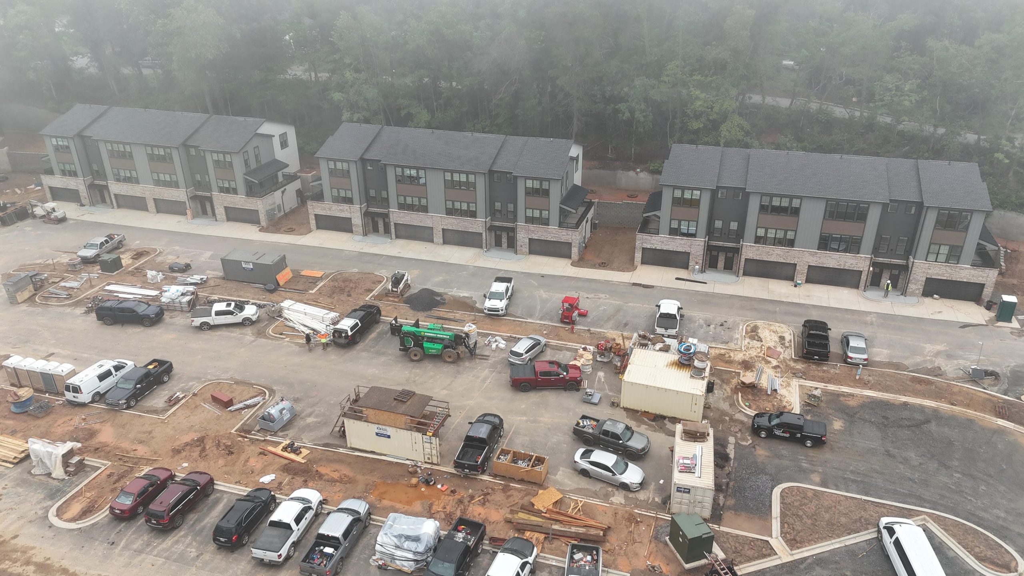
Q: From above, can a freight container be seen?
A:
Yes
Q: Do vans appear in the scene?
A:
Yes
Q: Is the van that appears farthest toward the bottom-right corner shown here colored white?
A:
Yes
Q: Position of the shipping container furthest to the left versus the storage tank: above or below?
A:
above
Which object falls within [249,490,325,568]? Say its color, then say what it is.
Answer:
white truck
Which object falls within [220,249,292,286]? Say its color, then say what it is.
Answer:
gray shipping container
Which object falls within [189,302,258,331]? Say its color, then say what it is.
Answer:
white truck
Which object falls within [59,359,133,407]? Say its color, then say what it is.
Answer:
white van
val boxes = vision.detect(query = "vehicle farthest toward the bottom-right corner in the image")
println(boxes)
[878,519,958,576]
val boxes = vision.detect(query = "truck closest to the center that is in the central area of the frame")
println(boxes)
[480,277,515,317]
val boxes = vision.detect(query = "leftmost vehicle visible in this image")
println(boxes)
[34,196,63,225]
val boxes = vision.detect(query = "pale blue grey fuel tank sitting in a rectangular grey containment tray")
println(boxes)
[258,398,295,431]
